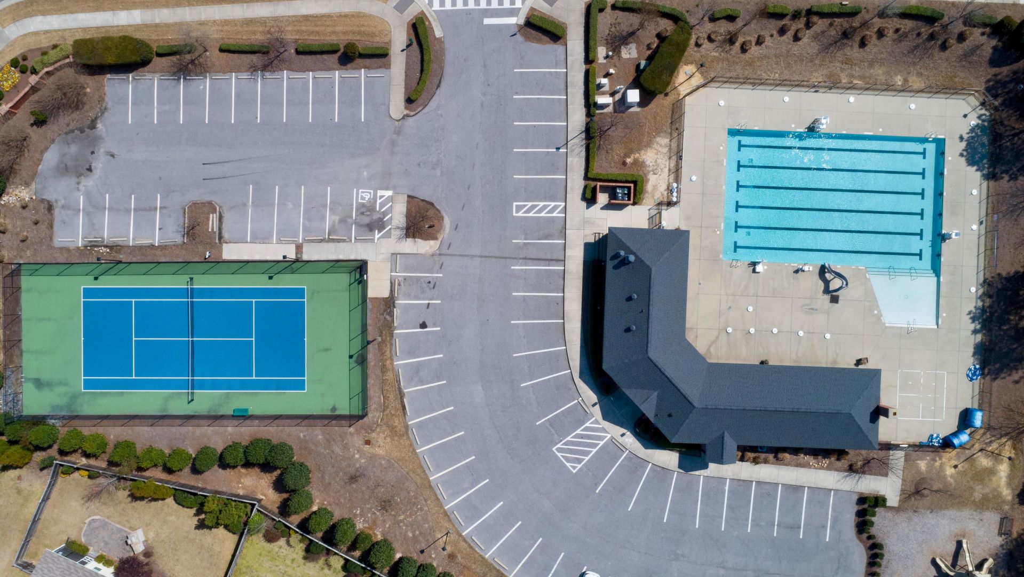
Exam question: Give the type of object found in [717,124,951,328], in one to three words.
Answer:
swimming pool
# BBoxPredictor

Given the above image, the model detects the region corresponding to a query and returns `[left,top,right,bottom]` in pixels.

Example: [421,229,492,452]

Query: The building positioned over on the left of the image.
[26,528,126,577]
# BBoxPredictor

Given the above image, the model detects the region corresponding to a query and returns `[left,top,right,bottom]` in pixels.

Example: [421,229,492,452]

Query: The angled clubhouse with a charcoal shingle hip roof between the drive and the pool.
[602,226,897,464]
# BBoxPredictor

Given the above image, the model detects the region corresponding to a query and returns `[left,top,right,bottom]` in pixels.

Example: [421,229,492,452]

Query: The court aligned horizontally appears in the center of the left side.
[21,263,367,415]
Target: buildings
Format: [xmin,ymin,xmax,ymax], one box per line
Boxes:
[26,528,126,577]
[602,226,897,464]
